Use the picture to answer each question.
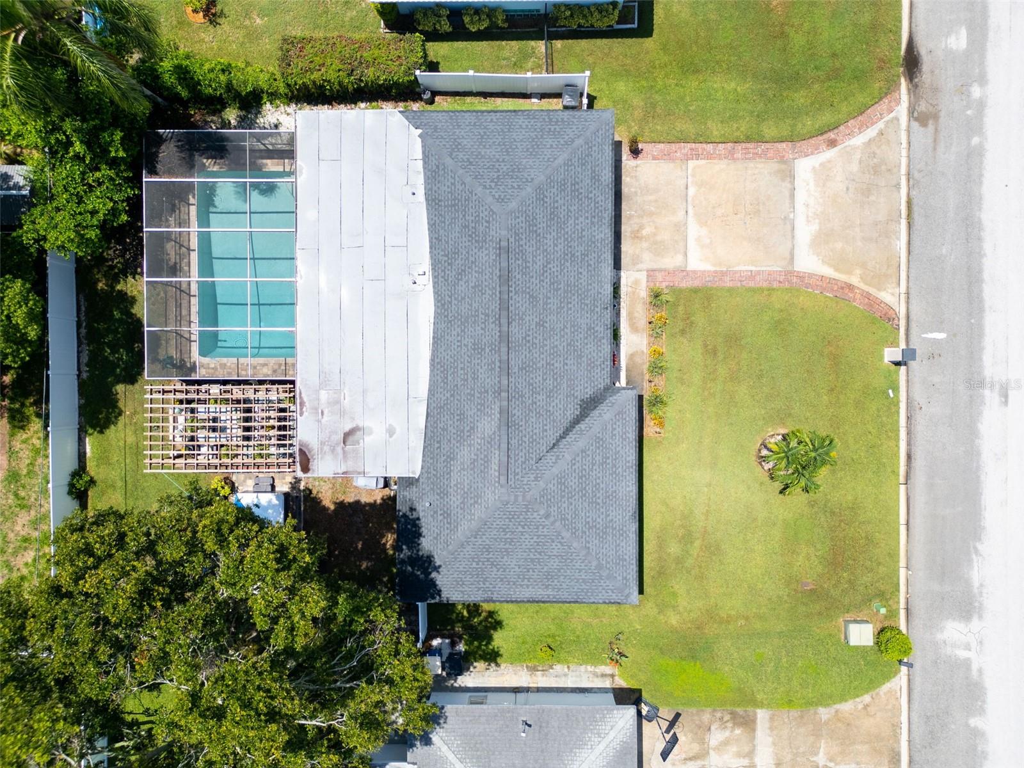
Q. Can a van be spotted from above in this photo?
No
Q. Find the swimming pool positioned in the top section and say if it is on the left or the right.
left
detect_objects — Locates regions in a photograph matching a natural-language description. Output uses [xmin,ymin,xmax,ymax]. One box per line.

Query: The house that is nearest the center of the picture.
[296,110,638,603]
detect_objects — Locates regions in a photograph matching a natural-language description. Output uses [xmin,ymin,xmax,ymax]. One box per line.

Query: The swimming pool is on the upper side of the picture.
[189,164,295,364]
